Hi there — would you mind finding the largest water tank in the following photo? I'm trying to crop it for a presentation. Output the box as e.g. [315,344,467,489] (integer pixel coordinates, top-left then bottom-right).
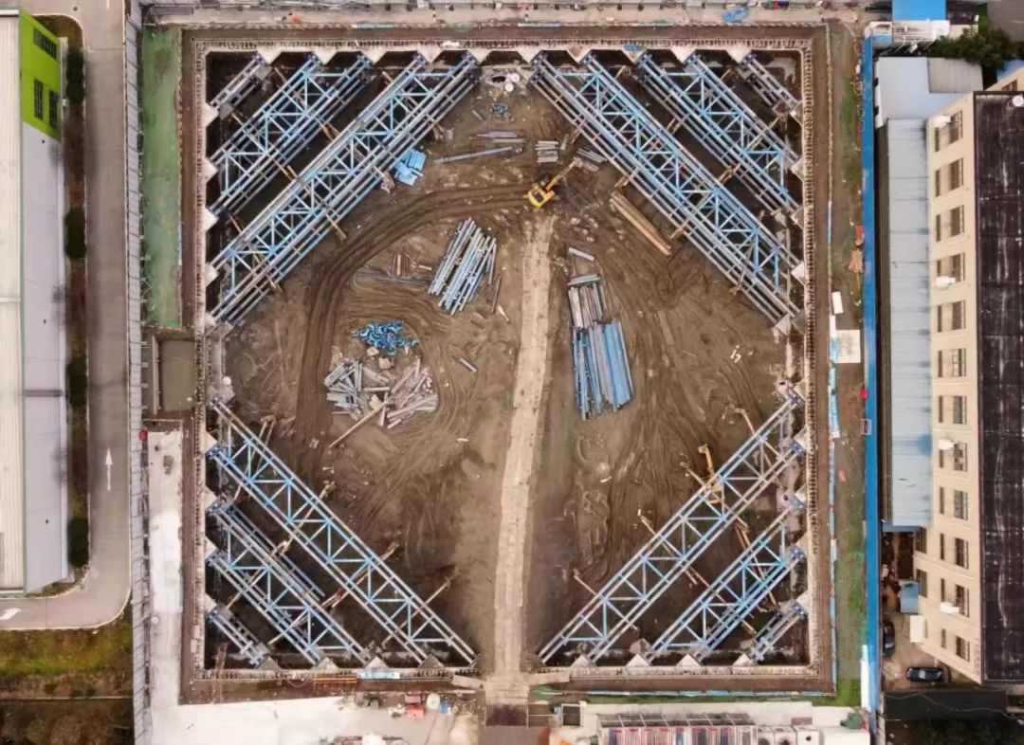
[151,330,194,418]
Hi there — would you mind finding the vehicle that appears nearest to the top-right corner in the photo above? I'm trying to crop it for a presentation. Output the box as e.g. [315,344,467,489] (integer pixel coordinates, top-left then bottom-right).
[524,157,579,213]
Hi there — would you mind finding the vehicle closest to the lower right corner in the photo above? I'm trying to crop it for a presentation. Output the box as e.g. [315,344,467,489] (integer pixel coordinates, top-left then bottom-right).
[904,663,945,684]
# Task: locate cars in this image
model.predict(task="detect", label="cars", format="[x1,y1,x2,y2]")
[879,618,899,658]
[904,663,945,684]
